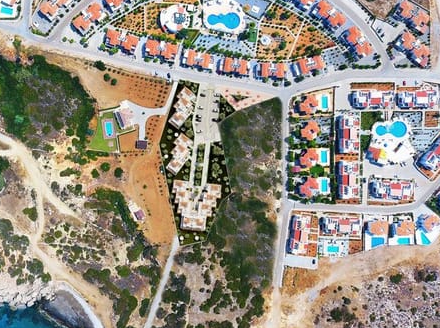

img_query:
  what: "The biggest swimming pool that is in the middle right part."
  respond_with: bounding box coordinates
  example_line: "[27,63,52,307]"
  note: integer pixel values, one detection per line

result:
[375,120,408,138]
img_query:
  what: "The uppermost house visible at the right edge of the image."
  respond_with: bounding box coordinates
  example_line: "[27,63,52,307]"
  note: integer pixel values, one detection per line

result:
[392,0,432,32]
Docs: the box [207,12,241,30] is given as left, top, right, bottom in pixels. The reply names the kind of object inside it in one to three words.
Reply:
swimming pool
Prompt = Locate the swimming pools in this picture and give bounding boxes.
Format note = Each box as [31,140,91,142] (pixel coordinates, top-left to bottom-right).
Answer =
[320,150,327,162]
[375,120,408,138]
[321,94,328,109]
[207,12,241,30]
[371,237,385,247]
[397,237,410,245]
[321,179,328,192]
[327,244,340,252]
[0,5,14,16]
[420,231,433,245]
[106,121,113,135]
